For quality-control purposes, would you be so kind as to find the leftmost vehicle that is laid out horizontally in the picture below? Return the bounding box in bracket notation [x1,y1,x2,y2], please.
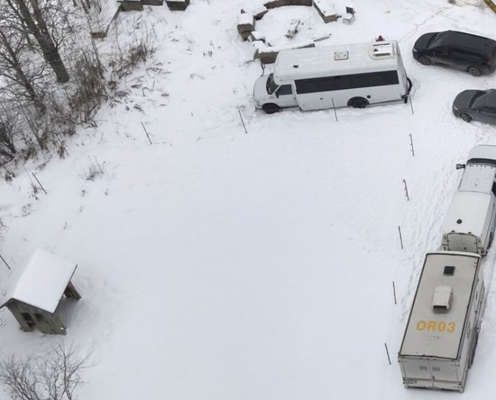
[259,44,417,109]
